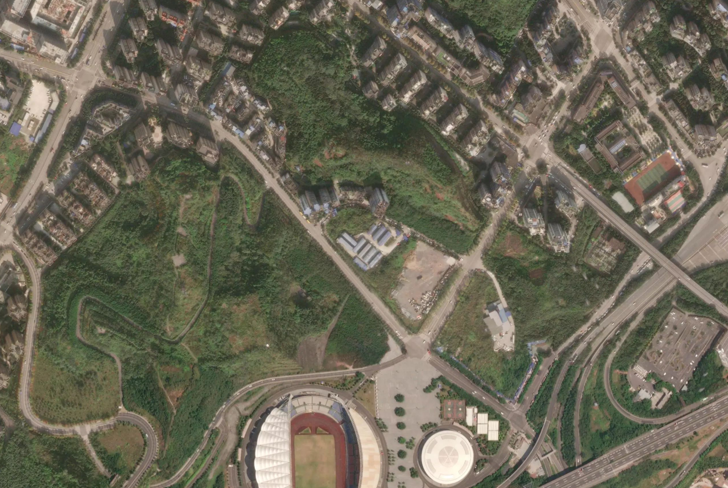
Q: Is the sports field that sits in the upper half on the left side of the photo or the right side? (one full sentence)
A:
The sports field that sits in the upper half appears in the right half of the scene.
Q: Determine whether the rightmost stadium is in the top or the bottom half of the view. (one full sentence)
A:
The rightmost stadium sits in the bottom half of the picture.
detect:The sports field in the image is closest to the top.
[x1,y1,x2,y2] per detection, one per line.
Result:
[624,152,685,204]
